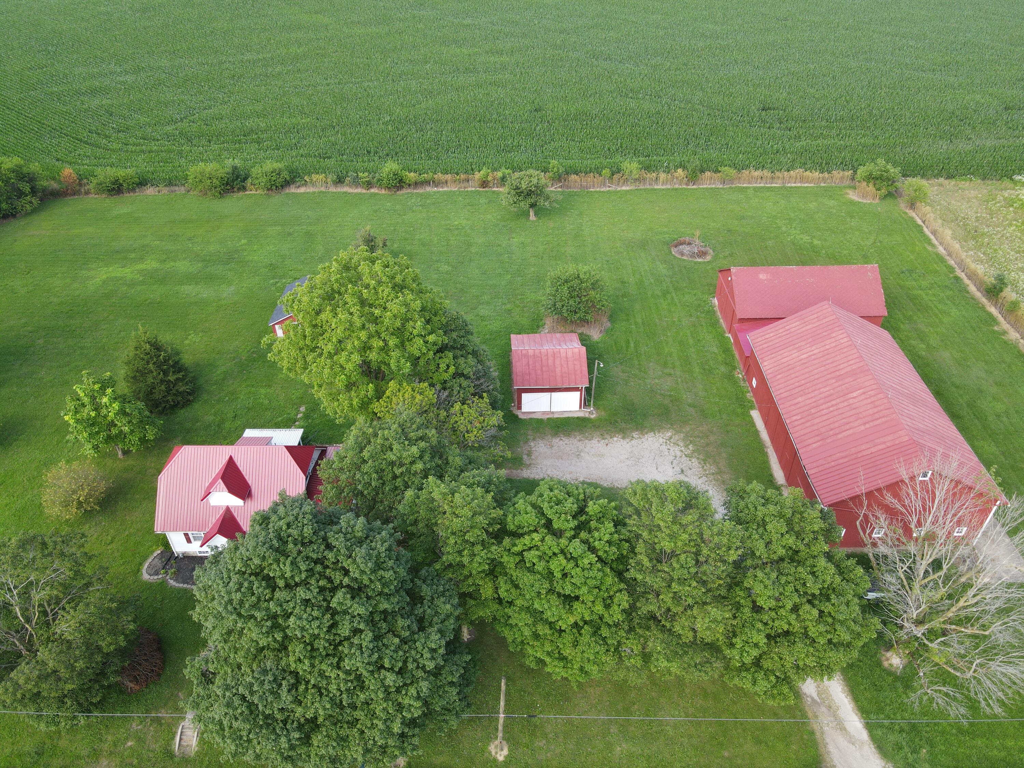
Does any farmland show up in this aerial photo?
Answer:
Yes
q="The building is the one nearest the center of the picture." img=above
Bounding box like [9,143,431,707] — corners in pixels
[510,333,594,410]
